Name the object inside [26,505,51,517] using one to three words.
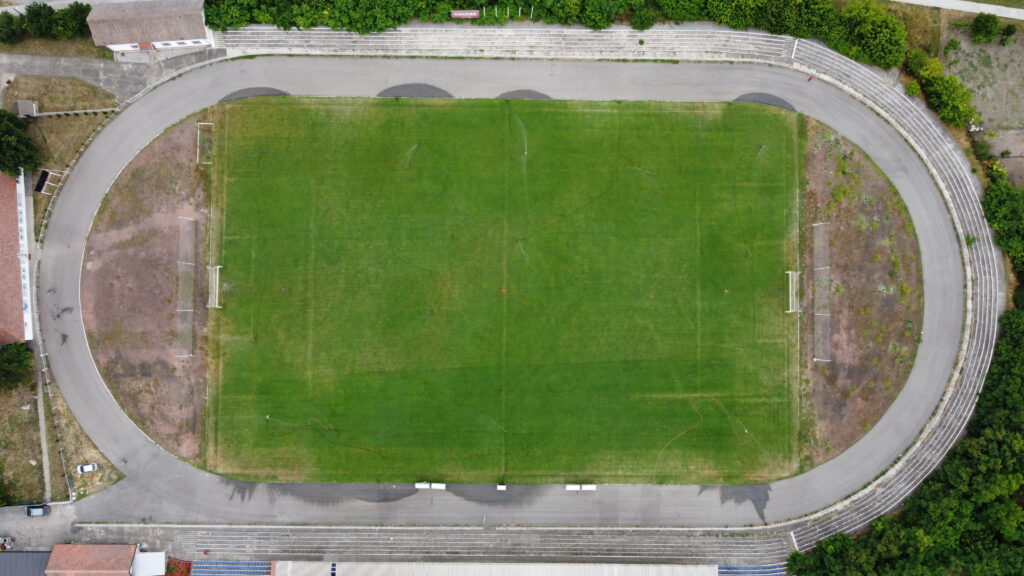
vehicle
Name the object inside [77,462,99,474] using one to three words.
vehicle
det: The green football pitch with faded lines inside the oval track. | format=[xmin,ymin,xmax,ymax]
[205,95,809,485]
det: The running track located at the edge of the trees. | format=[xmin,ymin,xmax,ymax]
[39,58,964,526]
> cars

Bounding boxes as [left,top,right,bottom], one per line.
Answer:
[26,505,51,517]
[0,538,15,550]
[77,462,99,474]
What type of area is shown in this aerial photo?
sports ground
